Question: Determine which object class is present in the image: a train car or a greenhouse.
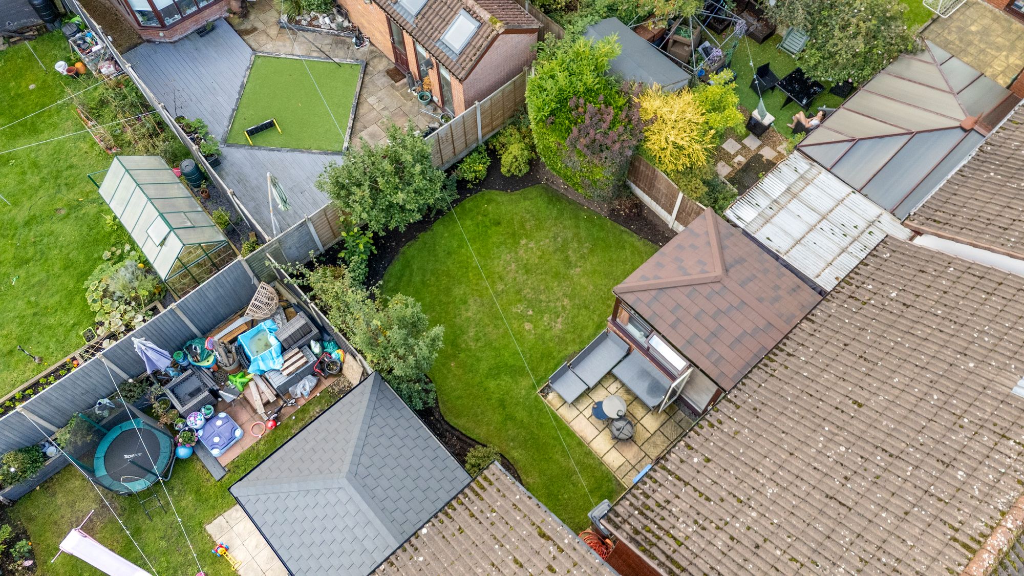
greenhouse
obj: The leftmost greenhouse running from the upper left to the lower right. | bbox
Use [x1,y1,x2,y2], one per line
[87,154,248,300]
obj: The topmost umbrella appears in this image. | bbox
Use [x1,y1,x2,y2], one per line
[262,170,301,242]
